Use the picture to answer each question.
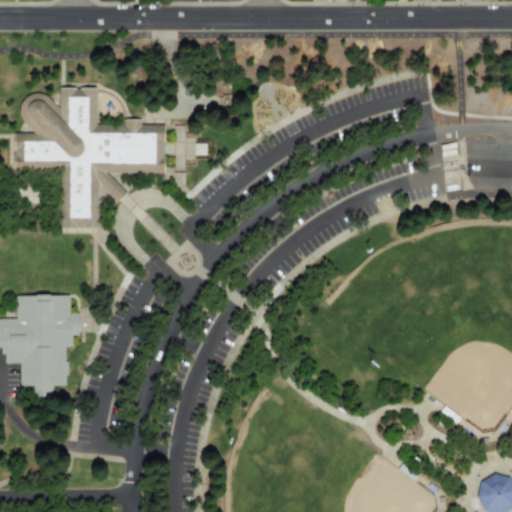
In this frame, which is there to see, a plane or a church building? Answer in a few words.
church building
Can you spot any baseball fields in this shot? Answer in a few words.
Yes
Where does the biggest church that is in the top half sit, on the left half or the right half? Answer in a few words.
left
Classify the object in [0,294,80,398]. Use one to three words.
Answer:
building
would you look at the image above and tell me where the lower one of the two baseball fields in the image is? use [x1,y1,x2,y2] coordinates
[224,388,437,512]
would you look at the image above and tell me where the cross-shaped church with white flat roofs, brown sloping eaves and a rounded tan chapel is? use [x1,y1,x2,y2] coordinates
[15,84,165,228]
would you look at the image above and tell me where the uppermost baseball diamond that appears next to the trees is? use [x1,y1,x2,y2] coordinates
[328,219,512,432]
